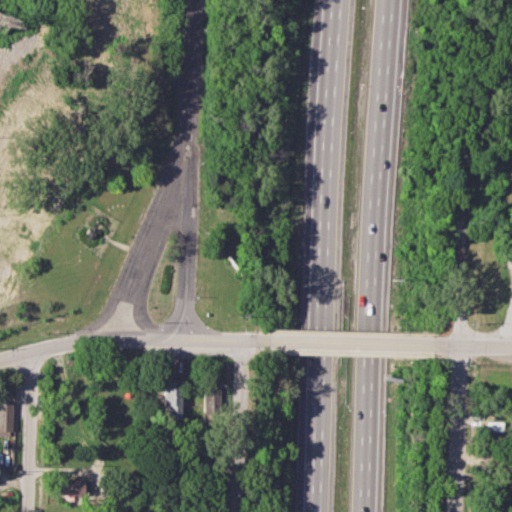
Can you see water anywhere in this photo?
No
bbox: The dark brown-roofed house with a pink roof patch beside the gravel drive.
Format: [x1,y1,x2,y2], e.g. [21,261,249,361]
[64,476,88,503]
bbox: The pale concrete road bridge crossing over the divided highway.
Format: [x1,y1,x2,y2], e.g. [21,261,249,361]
[270,330,438,358]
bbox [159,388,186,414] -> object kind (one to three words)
house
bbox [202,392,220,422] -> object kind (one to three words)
house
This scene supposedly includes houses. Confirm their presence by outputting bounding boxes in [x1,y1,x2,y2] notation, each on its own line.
[486,420,506,432]
[159,388,186,414]
[64,476,88,503]
[202,392,220,422]
[0,404,16,438]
